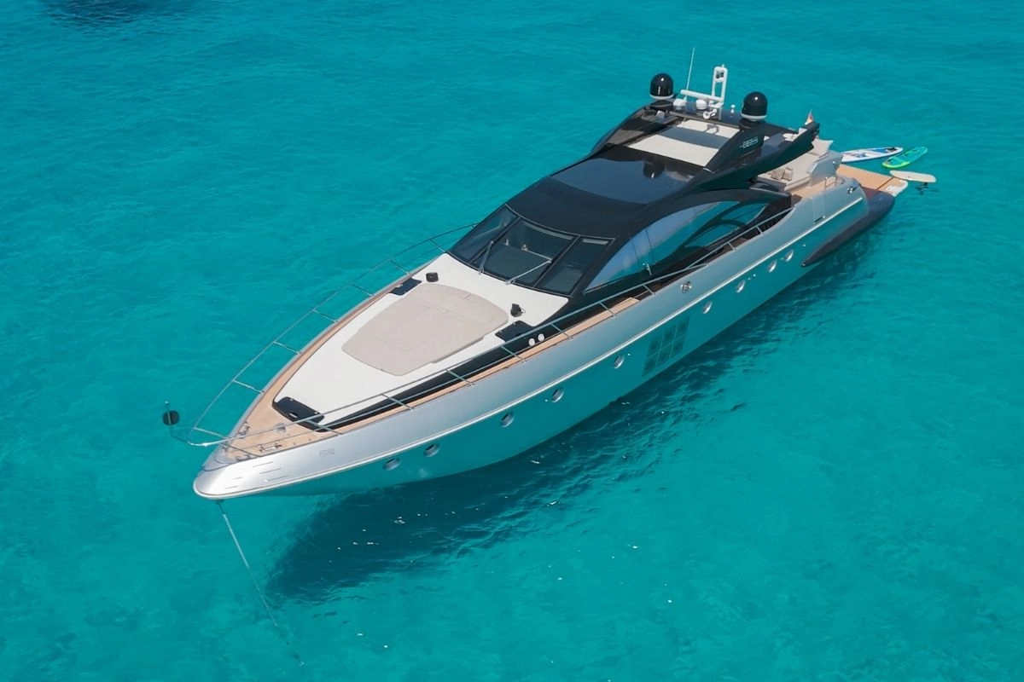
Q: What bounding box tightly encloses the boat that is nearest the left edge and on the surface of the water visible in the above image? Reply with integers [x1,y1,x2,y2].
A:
[163,48,905,507]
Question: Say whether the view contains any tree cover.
No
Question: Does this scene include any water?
Yes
